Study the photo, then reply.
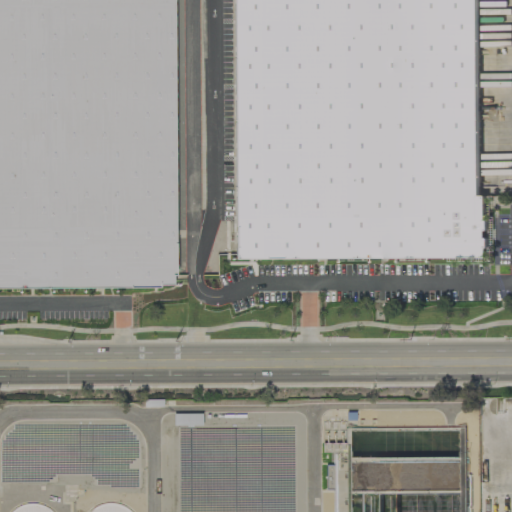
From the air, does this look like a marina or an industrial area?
industrial area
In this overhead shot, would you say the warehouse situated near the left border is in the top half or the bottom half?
top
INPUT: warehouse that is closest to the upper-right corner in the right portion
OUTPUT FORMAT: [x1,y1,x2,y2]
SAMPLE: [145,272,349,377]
[237,0,485,259]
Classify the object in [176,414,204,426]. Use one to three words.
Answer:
shed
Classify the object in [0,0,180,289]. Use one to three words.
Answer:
warehouse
